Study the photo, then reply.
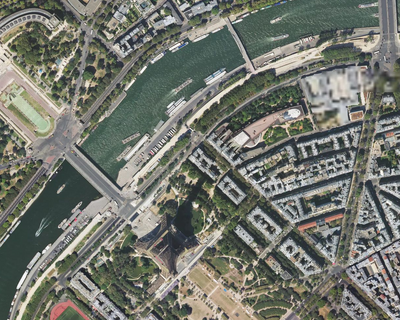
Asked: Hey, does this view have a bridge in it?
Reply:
Yes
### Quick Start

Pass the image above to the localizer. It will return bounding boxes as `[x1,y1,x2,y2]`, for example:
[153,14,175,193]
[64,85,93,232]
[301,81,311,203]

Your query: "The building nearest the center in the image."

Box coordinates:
[188,147,224,181]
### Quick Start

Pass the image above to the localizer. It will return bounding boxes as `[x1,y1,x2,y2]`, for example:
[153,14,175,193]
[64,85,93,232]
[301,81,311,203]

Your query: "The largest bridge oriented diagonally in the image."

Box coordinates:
[63,147,128,204]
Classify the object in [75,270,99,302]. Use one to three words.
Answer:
house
